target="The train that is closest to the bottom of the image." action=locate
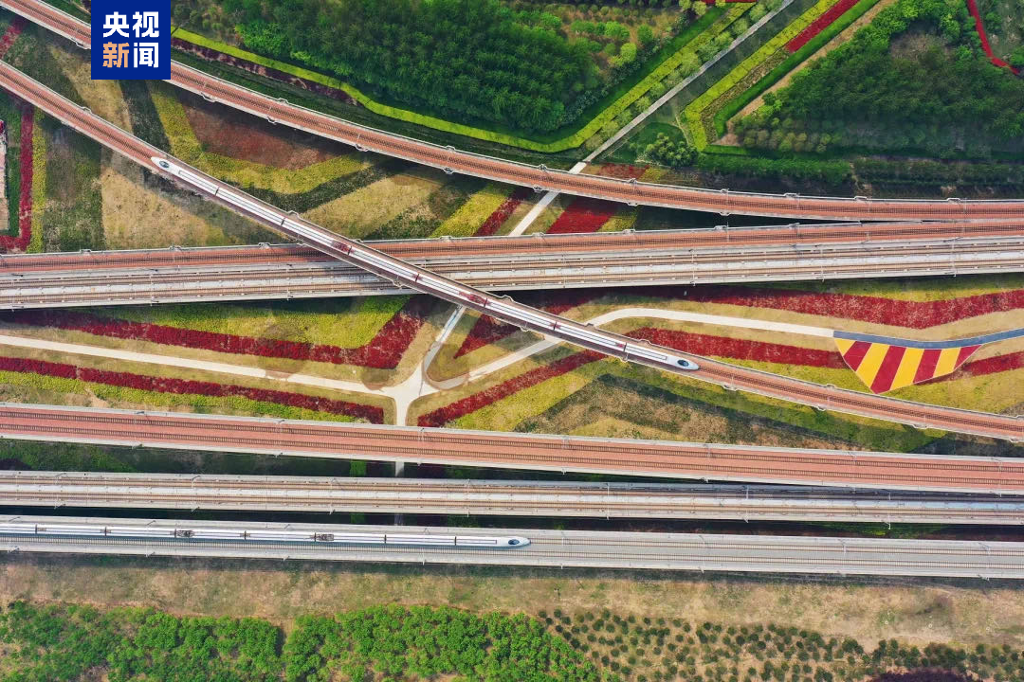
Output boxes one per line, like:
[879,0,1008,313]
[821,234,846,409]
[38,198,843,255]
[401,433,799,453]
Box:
[0,523,527,548]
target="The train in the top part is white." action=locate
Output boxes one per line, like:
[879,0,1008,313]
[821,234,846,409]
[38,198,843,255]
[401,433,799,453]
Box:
[155,159,695,368]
